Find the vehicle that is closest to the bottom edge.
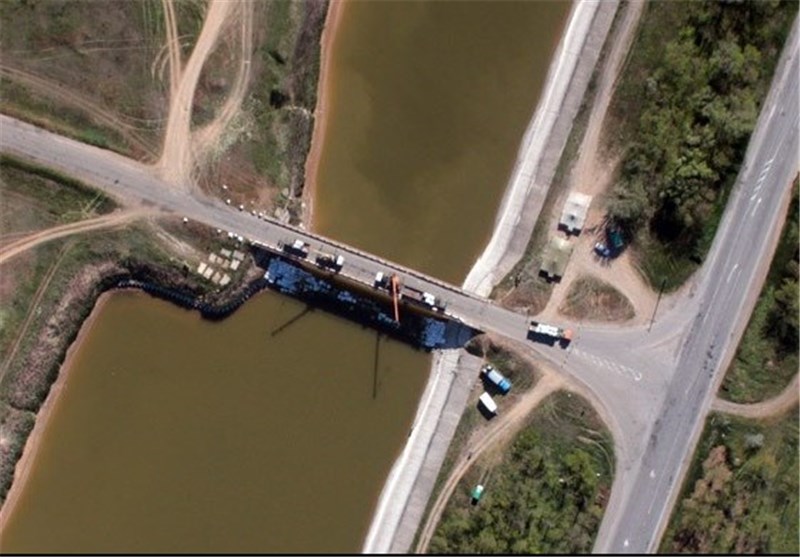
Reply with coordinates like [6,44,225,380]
[472,484,484,502]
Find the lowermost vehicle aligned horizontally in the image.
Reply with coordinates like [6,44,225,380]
[530,321,573,339]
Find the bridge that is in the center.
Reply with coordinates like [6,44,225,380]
[256,215,488,326]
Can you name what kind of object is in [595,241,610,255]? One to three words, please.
car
